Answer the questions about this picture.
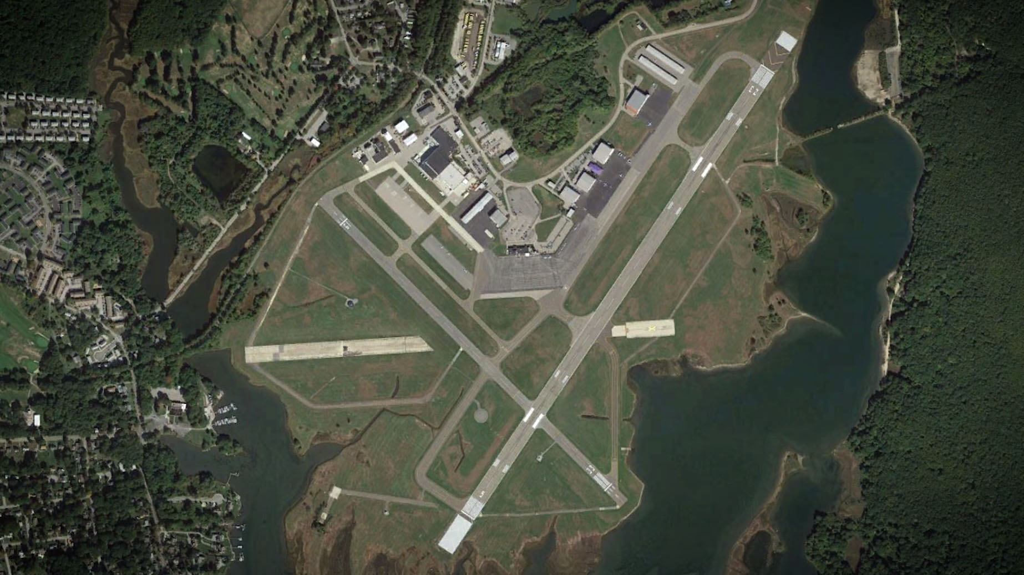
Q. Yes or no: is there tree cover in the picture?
Yes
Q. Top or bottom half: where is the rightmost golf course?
top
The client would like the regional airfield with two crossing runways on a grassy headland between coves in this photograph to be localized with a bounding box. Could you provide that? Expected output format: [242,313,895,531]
[245,31,797,554]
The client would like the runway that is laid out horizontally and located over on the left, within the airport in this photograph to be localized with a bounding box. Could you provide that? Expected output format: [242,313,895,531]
[245,336,433,363]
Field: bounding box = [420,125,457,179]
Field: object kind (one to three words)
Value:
building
